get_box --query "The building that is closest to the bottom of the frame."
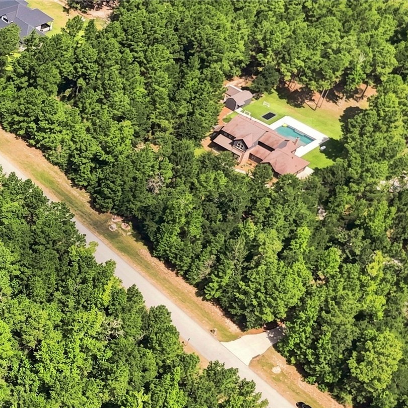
[209,112,312,179]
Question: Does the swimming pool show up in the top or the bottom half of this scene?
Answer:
top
